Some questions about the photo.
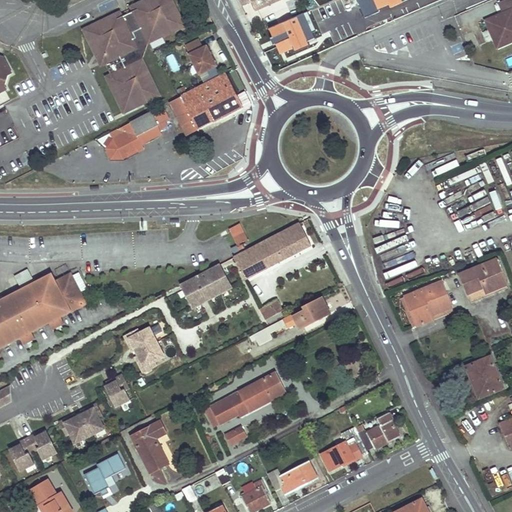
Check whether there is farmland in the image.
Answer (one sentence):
No, no farmland is visible.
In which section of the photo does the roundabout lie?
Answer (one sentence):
Look in the top portion of the view to spot the roundabout.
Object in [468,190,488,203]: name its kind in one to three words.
vehicle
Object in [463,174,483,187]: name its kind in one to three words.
vehicle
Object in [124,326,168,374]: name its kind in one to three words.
house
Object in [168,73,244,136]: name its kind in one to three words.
building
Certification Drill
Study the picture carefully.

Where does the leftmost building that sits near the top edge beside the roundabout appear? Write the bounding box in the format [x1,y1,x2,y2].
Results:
[82,0,184,114]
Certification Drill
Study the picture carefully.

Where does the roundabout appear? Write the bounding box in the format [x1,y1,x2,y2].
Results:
[141,21,430,256]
